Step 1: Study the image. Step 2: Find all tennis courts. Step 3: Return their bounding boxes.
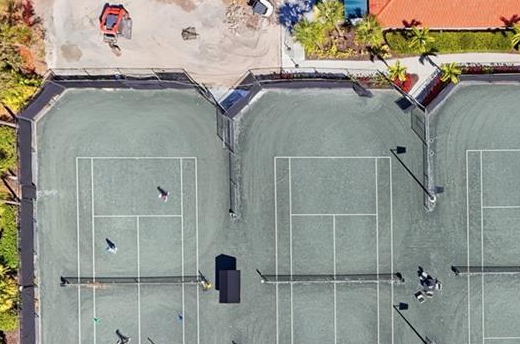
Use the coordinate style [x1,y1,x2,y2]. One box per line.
[231,88,430,344]
[427,82,520,344]
[34,87,236,344]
